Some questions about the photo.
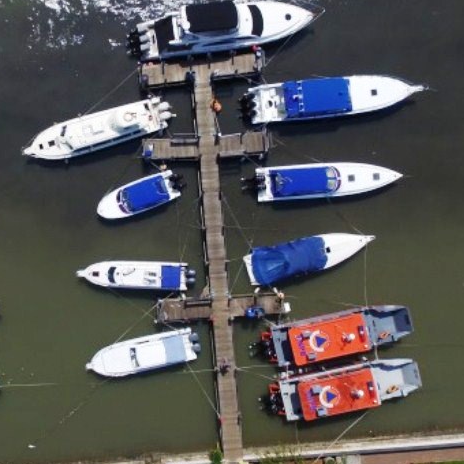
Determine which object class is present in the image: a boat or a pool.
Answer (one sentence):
The image shows a boat.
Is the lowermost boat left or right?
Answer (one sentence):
It is on the right.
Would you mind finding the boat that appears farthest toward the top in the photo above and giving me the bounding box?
[132,2,323,61]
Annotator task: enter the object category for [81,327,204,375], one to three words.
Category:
boat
